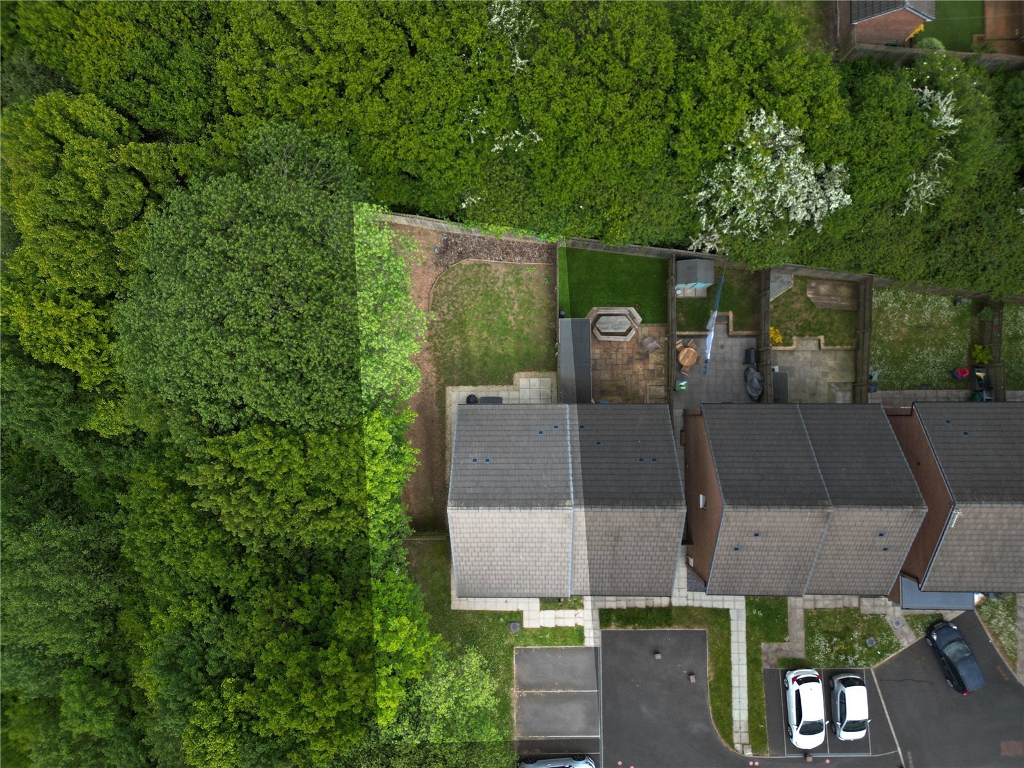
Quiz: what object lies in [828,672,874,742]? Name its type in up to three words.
car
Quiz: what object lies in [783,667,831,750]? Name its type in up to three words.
car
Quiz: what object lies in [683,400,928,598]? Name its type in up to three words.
house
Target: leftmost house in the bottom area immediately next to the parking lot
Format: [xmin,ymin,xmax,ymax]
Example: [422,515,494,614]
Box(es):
[449,401,686,600]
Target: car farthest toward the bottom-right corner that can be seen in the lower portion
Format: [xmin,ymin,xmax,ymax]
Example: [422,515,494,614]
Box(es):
[924,618,990,701]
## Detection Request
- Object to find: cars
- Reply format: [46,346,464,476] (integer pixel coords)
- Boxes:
[516,755,595,768]
[828,672,874,742]
[924,618,990,701]
[783,667,831,750]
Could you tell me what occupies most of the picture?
trees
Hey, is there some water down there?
No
